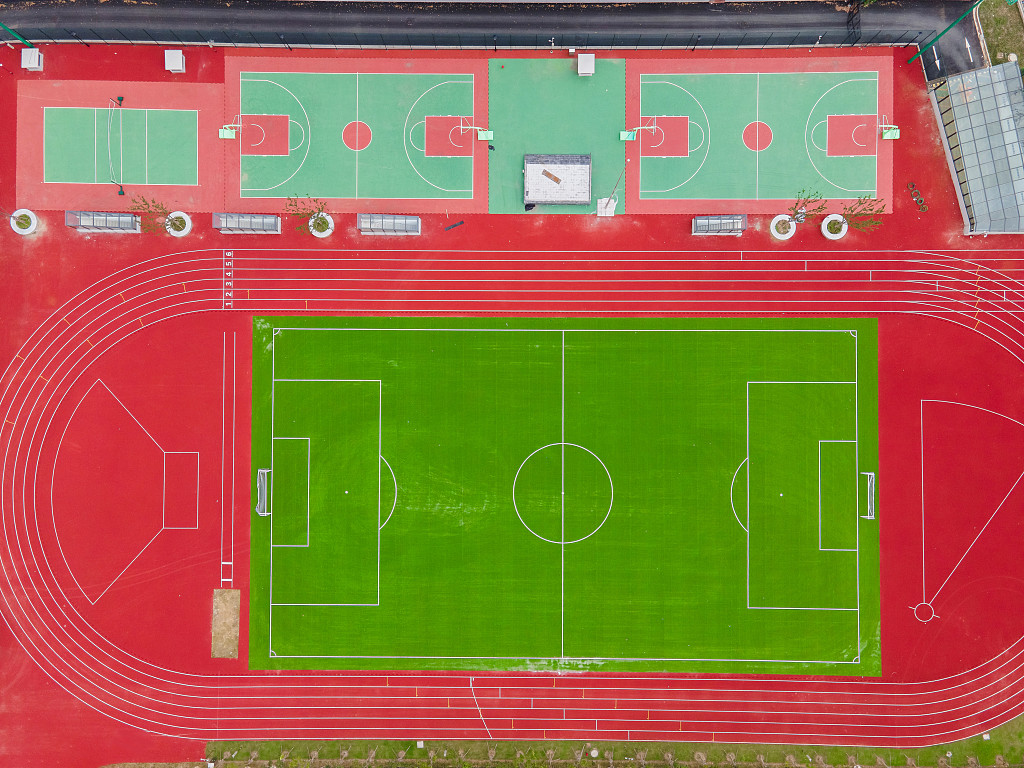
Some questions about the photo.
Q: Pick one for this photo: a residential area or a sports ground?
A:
sports ground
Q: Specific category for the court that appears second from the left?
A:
basketball court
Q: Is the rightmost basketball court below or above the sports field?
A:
above it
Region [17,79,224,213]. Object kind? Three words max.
sports court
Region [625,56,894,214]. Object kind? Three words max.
basketball court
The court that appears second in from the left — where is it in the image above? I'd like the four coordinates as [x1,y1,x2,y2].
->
[224,56,489,214]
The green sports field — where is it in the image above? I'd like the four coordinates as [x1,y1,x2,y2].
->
[249,316,882,677]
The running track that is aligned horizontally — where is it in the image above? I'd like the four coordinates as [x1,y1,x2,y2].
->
[0,249,1024,748]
